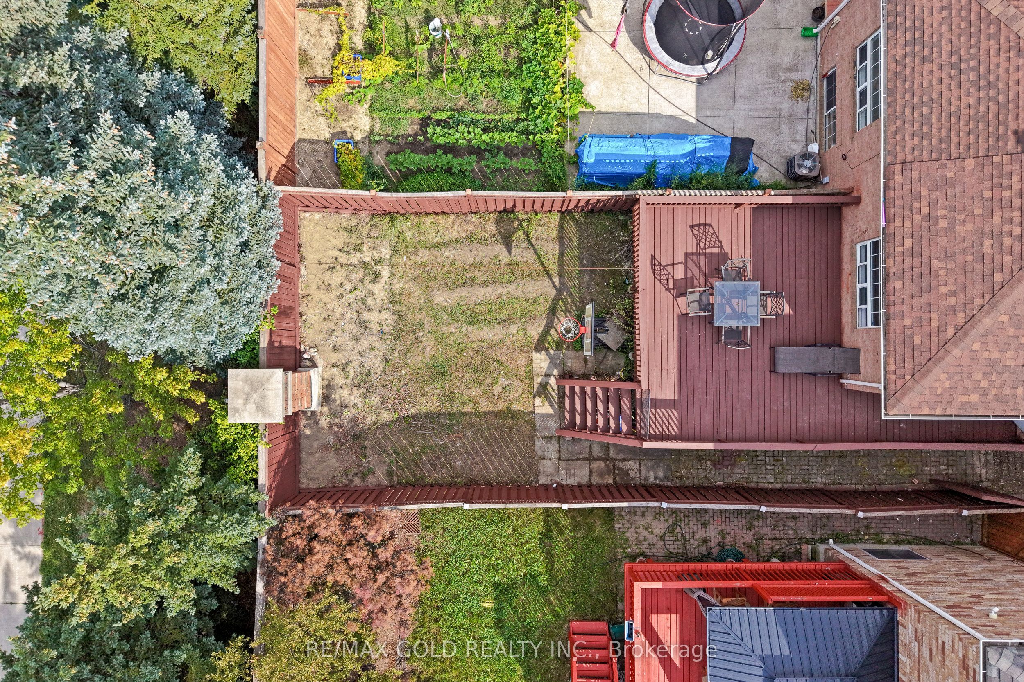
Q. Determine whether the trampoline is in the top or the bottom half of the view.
top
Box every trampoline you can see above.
[636,0,764,95]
